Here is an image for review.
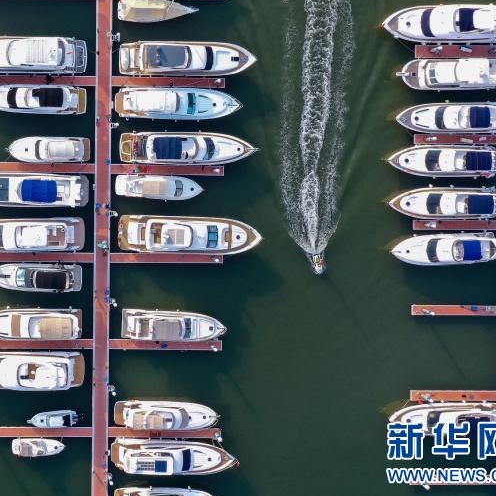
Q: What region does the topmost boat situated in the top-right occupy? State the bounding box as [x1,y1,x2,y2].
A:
[380,5,496,46]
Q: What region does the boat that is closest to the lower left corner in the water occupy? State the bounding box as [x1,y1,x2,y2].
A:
[12,437,66,458]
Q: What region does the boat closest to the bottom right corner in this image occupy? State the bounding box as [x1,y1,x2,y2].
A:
[387,399,496,437]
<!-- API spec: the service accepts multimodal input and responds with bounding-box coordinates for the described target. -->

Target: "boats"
[389,232,496,265]
[110,39,258,80]
[109,214,265,255]
[110,483,213,496]
[0,261,91,296]
[0,349,93,393]
[0,215,93,255]
[27,410,80,431]
[0,305,93,341]
[110,435,240,479]
[110,396,219,434]
[109,307,227,345]
[387,399,496,437]
[386,186,496,219]
[8,133,93,166]
[0,33,93,76]
[380,5,496,46]
[12,437,66,458]
[386,145,496,178]
[311,253,323,273]
[0,170,92,210]
[111,84,243,122]
[109,128,260,168]
[393,101,496,133]
[0,82,92,117]
[397,58,496,92]
[109,172,205,204]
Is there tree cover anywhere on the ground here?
No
